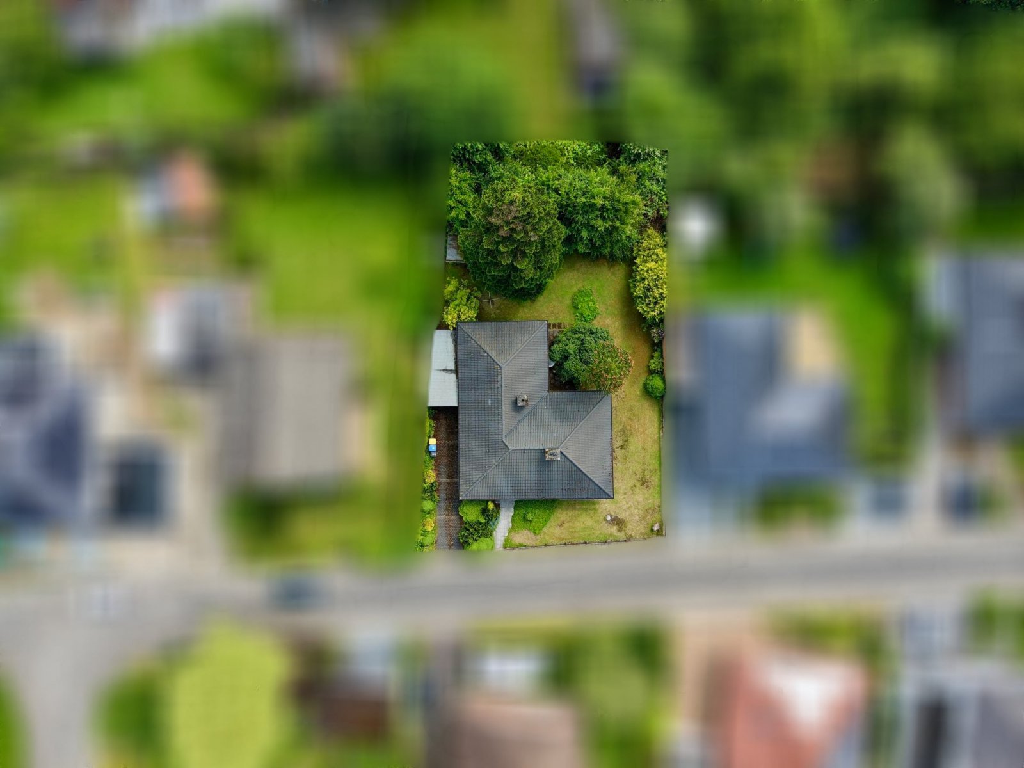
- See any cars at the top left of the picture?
No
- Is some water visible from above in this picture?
No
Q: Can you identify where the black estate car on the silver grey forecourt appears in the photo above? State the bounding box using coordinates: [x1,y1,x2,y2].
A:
[917,699,946,755]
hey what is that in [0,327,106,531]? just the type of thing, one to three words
house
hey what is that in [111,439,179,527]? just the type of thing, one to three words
building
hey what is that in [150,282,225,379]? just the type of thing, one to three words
building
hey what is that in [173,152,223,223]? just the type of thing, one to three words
shed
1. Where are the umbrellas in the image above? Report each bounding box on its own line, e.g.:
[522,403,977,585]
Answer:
[673,205,715,247]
